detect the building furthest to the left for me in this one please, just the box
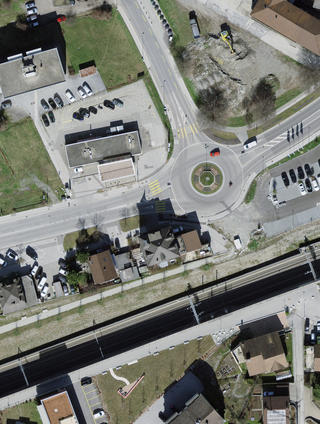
[0,278,26,314]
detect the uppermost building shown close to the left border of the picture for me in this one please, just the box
[0,48,66,98]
